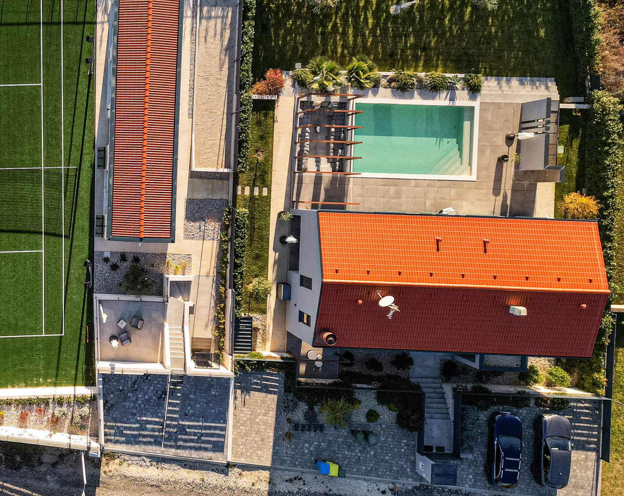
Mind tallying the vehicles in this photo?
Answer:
2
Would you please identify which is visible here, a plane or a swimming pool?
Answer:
swimming pool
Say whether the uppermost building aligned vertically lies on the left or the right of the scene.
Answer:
left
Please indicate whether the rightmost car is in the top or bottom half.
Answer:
bottom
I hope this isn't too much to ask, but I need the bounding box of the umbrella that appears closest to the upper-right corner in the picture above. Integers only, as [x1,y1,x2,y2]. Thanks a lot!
[505,130,535,142]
